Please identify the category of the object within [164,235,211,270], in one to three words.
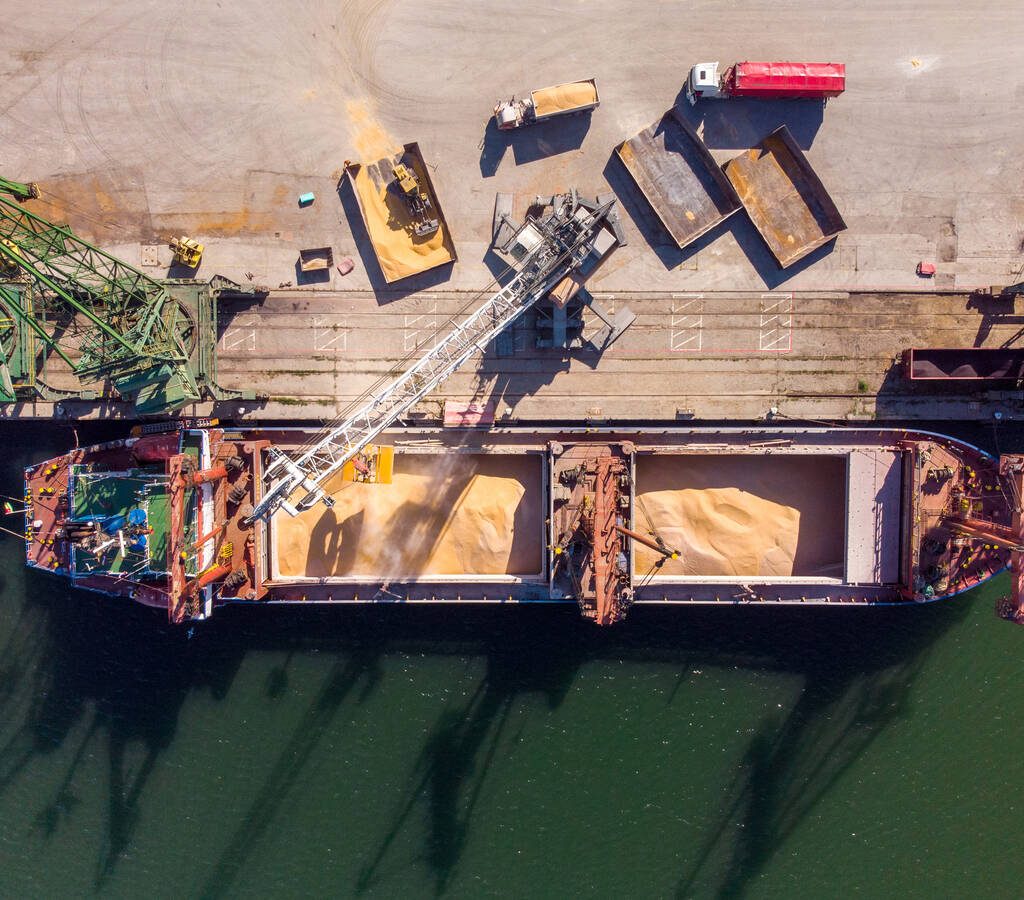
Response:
work vehicle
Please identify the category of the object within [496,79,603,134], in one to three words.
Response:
truck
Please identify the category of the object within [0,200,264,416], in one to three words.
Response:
crane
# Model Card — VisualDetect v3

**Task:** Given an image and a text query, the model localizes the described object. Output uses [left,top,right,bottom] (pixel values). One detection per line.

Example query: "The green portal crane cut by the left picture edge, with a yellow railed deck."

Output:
[0,278,98,420]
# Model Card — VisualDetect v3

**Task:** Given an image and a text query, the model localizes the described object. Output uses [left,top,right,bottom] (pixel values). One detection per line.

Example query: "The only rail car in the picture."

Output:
[891,347,1024,382]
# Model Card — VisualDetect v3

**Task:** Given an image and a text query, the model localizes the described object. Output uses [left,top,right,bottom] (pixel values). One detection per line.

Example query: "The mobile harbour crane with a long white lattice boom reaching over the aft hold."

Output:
[244,161,636,527]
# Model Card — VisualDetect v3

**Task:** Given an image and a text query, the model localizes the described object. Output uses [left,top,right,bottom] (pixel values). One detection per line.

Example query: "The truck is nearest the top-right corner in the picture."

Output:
[683,61,846,102]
